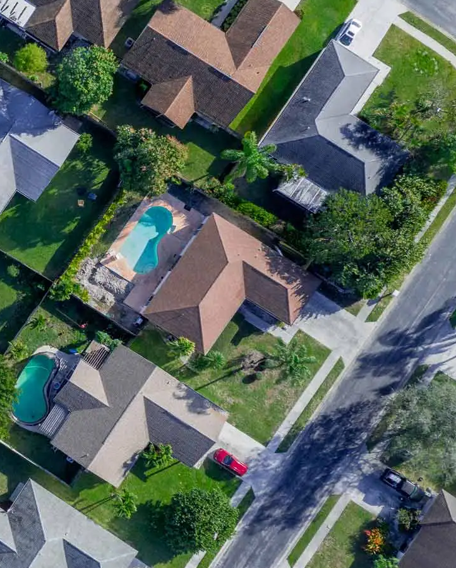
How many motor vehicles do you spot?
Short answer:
3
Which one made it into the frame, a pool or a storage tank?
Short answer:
pool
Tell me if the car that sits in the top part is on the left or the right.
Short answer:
right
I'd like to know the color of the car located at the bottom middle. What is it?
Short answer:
red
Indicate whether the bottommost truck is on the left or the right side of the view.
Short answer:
right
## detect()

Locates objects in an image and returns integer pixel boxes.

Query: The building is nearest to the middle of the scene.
[142,212,319,356]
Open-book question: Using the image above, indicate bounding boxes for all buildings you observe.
[258,39,410,201]
[0,80,81,214]
[50,344,229,489]
[0,478,139,568]
[24,0,140,52]
[142,212,319,356]
[120,0,302,130]
[384,489,456,568]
